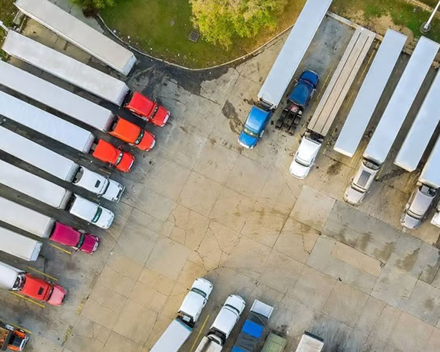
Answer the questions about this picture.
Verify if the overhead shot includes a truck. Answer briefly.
Yes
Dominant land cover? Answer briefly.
paved ground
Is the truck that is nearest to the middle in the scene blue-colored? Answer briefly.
Yes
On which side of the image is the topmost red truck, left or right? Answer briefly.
left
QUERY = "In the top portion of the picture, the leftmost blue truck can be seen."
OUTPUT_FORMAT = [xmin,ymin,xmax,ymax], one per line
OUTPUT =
[239,102,273,149]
